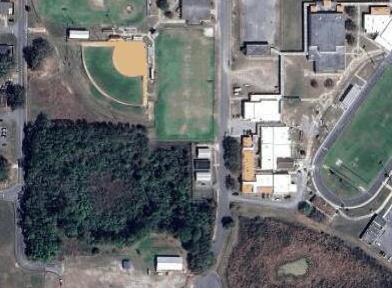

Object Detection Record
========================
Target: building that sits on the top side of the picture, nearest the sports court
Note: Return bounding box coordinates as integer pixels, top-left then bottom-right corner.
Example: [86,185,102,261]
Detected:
[245,42,272,56]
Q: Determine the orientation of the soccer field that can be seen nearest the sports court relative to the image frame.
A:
from top to bottom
